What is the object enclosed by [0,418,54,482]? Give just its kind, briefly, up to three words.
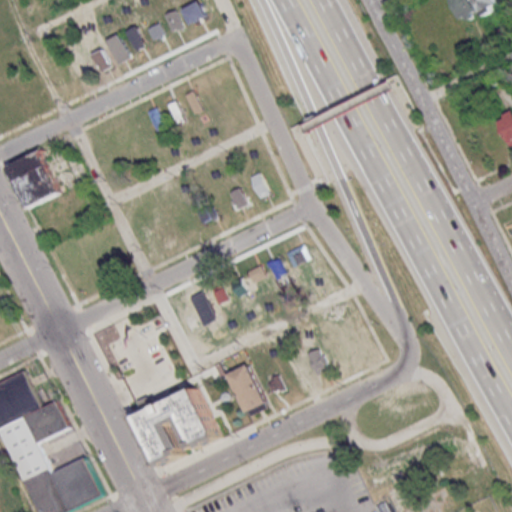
shed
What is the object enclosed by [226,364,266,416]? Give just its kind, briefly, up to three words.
building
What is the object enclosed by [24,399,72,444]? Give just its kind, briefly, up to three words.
building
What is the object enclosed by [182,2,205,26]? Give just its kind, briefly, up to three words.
house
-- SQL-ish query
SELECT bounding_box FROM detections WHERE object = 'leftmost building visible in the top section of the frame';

[4,147,63,215]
